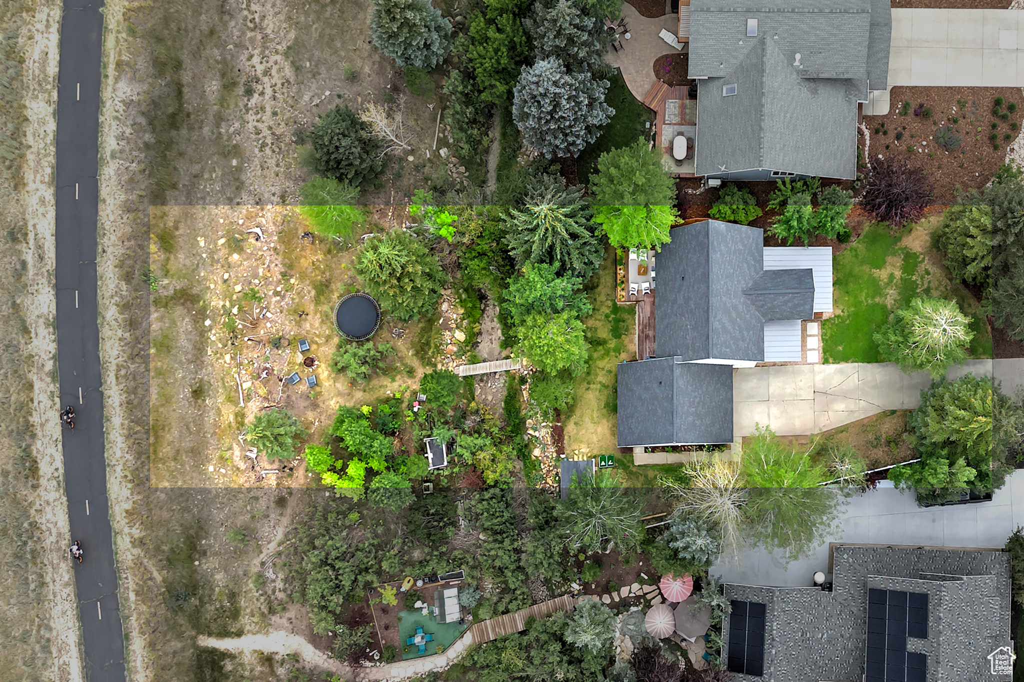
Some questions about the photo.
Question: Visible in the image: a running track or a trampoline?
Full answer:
Visible in the photo is a trampoline.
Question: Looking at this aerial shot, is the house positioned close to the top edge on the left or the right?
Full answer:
The house positioned close to the top edge is on the right side of the image.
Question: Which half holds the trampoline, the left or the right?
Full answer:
The trampoline appears in the left half of the scene.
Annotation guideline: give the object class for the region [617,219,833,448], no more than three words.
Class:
house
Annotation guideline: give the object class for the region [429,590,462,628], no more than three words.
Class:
shed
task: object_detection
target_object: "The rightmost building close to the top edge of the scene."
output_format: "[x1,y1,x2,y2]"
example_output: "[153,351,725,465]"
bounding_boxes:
[687,0,893,183]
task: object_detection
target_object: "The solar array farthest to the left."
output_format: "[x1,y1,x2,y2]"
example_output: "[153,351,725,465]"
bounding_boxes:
[730,601,765,676]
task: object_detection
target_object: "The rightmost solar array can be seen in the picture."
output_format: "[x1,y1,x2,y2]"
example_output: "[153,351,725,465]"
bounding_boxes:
[867,589,928,682]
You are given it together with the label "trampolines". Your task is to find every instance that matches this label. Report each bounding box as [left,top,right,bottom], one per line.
[333,293,381,341]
